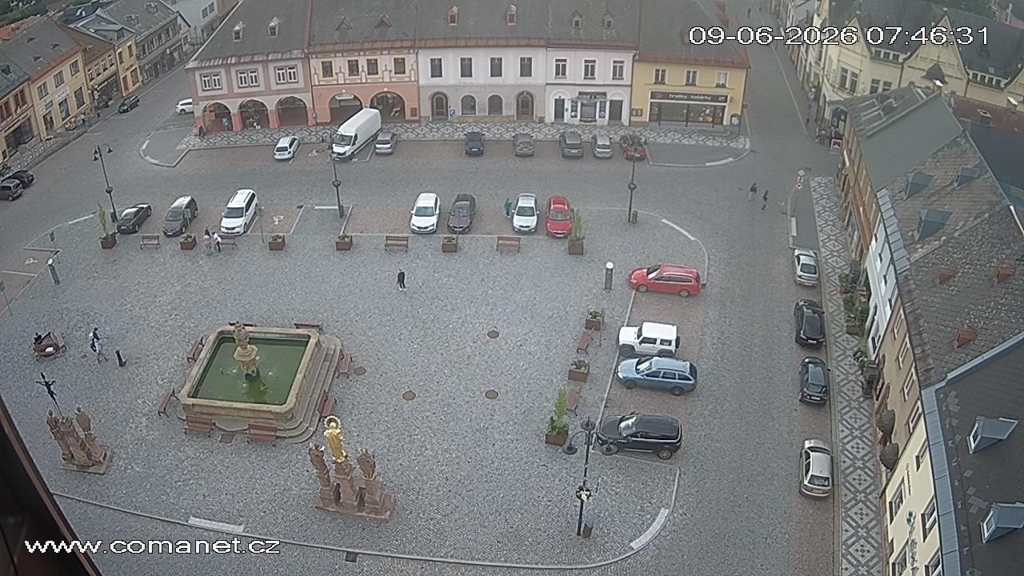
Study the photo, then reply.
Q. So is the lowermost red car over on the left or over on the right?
right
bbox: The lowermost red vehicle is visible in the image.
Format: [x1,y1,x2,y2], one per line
[632,266,700,297]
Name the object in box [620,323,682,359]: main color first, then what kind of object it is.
white car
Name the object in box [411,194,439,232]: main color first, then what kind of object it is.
white car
